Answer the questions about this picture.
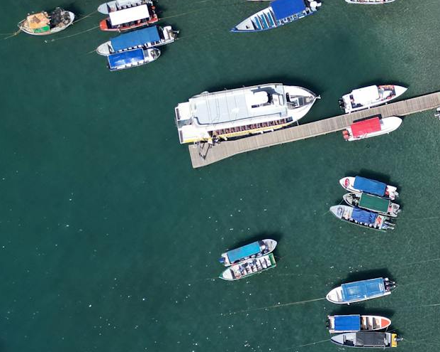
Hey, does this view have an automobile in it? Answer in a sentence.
No, there appears to be no automobile in this shot.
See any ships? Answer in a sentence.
Yes, the frame does contain a ship.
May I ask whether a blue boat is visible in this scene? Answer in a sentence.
Yes, I can see a blue boat in this picture.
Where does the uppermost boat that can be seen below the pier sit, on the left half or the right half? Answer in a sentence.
The uppermost boat that can be seen below the pier is on the right side of the image.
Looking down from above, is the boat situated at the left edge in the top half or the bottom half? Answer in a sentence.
The boat situated at the left edge sits in the top half of the picture.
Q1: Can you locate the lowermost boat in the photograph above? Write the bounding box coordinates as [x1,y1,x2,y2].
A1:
[332,332,403,347]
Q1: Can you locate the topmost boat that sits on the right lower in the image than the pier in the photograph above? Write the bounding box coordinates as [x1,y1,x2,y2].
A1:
[339,177,403,201]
